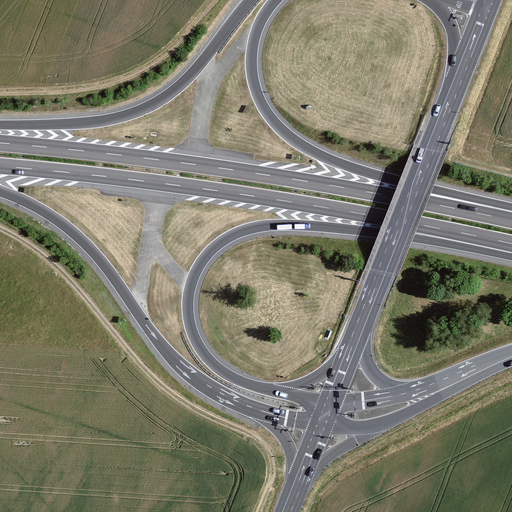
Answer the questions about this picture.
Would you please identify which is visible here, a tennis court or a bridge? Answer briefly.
bridge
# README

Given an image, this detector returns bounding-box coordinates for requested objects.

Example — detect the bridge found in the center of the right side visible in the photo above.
[364,144,447,274]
